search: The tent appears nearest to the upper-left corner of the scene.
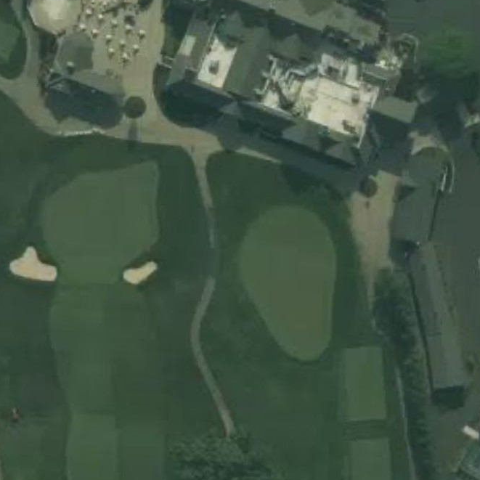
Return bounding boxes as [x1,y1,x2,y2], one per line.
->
[30,0,82,37]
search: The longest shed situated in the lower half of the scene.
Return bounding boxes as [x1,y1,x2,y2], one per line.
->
[406,242,465,391]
